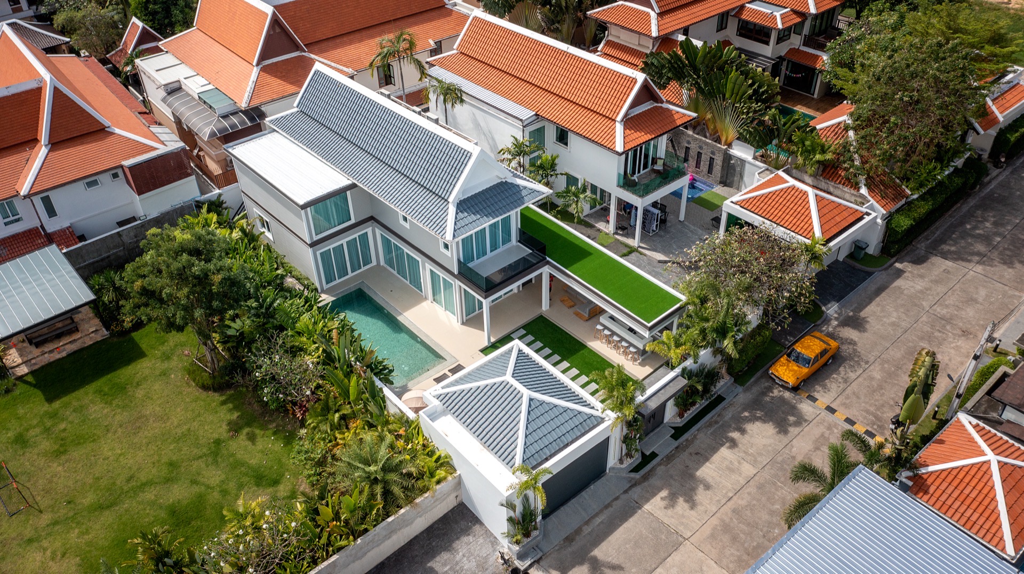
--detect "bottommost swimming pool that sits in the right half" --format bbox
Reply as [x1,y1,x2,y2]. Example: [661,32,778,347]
[674,172,718,205]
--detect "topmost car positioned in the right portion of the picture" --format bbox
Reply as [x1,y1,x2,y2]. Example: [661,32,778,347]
[766,332,839,393]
